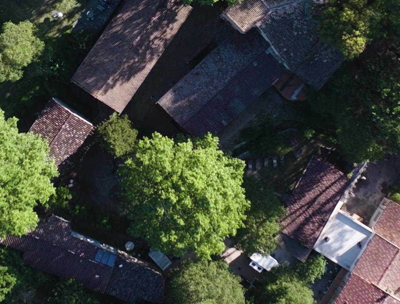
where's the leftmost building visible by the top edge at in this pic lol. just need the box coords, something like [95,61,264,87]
[76,0,192,114]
